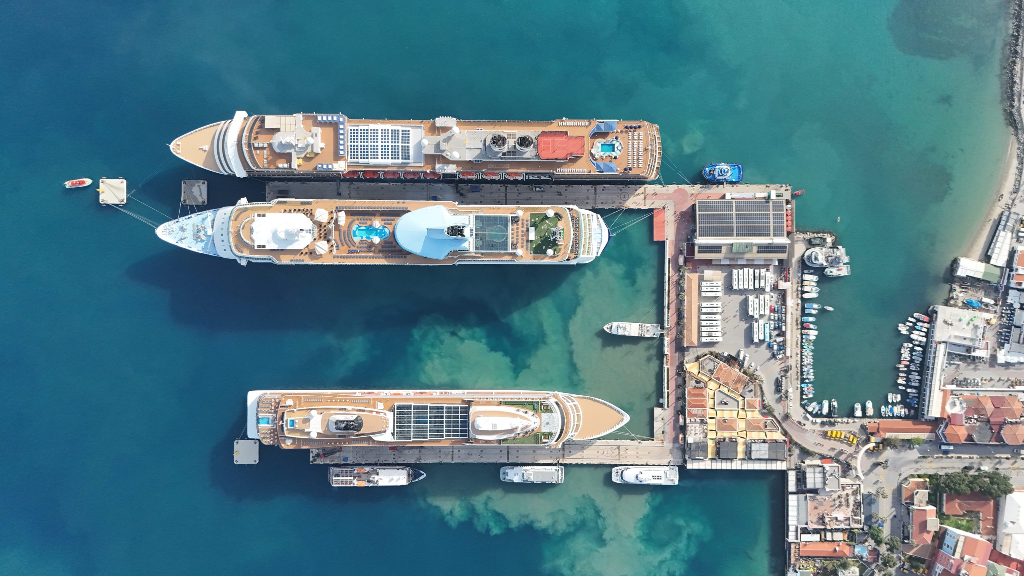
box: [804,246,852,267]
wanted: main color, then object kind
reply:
white boat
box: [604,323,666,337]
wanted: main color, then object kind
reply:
white ship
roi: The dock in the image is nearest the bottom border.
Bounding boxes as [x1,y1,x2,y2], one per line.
[310,439,682,464]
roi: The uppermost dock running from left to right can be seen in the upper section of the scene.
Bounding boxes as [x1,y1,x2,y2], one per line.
[266,183,792,209]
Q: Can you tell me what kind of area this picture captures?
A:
port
